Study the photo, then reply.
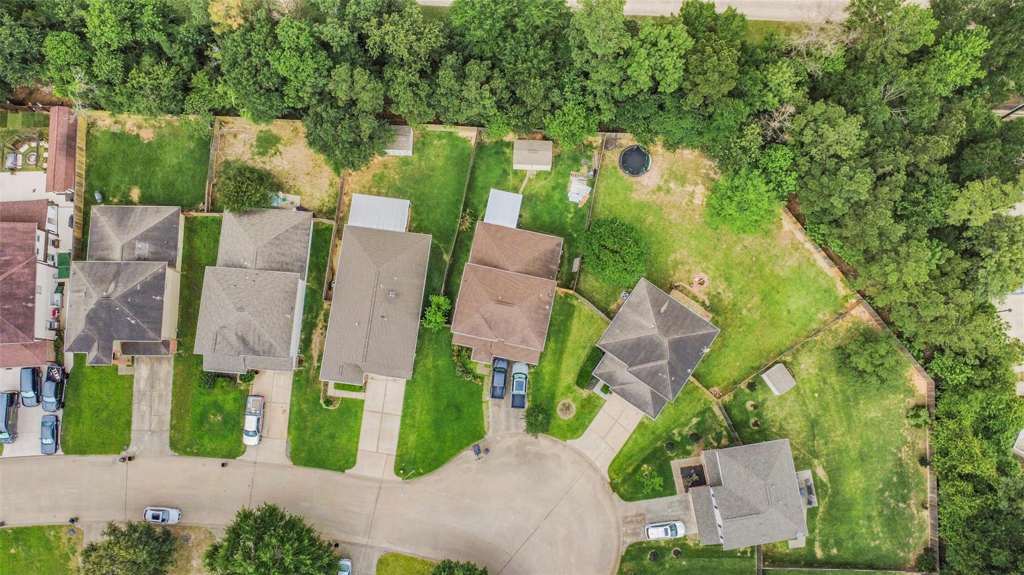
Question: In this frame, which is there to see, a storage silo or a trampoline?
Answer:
trampoline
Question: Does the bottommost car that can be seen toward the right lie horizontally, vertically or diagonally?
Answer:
horizontally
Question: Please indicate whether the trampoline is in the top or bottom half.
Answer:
top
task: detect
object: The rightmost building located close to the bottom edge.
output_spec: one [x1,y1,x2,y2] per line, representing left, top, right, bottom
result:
[689,438,809,550]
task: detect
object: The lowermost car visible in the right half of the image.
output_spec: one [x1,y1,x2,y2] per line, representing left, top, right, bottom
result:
[644,520,686,540]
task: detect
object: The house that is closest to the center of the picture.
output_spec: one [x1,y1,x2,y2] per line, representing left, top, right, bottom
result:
[450,221,564,366]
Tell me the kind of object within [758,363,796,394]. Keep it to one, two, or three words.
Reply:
shed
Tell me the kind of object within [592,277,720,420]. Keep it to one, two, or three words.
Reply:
house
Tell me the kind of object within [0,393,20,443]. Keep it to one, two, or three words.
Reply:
vehicle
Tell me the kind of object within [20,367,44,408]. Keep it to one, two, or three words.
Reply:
car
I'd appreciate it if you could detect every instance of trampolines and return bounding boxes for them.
[620,141,656,176]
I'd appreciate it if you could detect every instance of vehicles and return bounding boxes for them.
[143,506,183,526]
[644,520,686,540]
[243,395,265,445]
[511,362,530,409]
[43,366,67,412]
[490,357,509,399]
[0,393,20,443]
[39,415,61,455]
[20,367,44,408]
[336,556,354,575]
